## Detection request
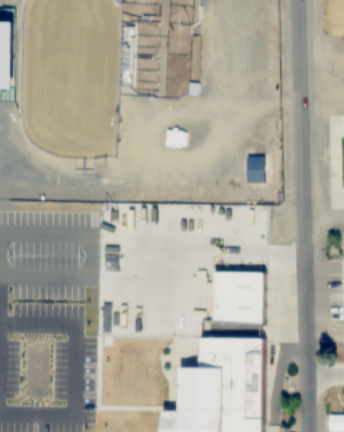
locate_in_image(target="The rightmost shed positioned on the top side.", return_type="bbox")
[248,157,266,182]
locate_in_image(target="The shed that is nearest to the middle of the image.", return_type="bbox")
[166,129,190,148]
